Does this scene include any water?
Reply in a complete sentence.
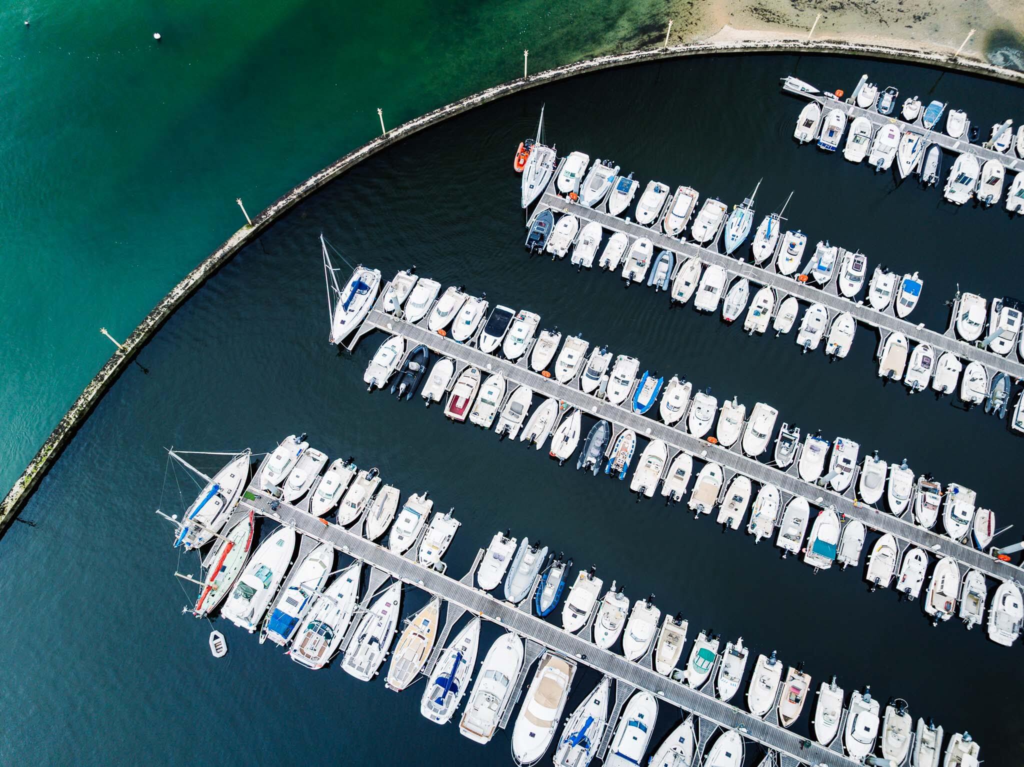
Yes, water shows up in the scene.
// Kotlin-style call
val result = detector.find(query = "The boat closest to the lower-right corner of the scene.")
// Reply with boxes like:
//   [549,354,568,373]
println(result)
[939,728,977,767]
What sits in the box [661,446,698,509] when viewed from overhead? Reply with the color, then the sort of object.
white boat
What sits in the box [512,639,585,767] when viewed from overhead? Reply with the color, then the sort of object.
white boat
